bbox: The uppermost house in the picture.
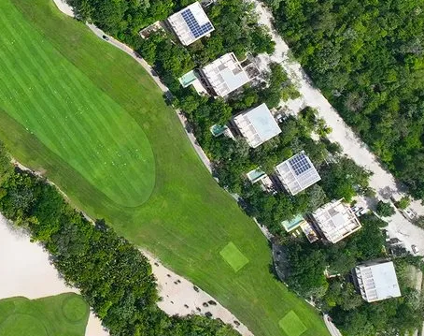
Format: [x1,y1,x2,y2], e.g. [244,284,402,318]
[163,1,215,46]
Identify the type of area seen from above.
golf course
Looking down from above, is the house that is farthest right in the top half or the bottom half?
bottom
